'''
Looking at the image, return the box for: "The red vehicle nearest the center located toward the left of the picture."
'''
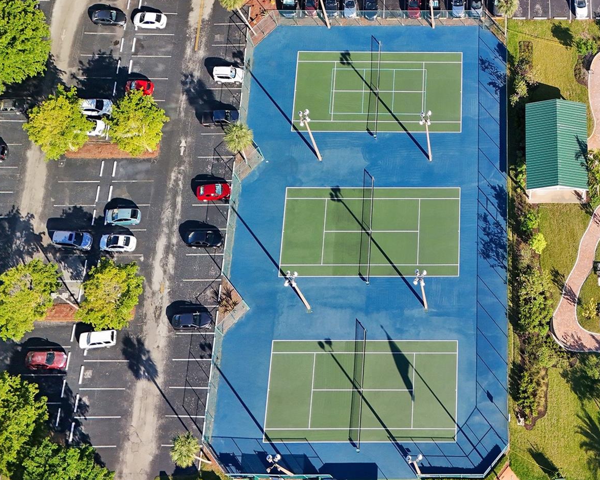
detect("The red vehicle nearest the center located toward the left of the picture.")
[194,182,232,201]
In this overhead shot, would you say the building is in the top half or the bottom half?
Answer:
top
